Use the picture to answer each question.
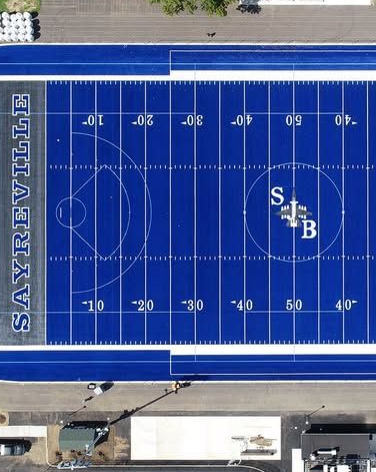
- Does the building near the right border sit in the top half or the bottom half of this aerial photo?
bottom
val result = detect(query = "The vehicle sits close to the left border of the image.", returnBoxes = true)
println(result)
[0,441,31,457]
